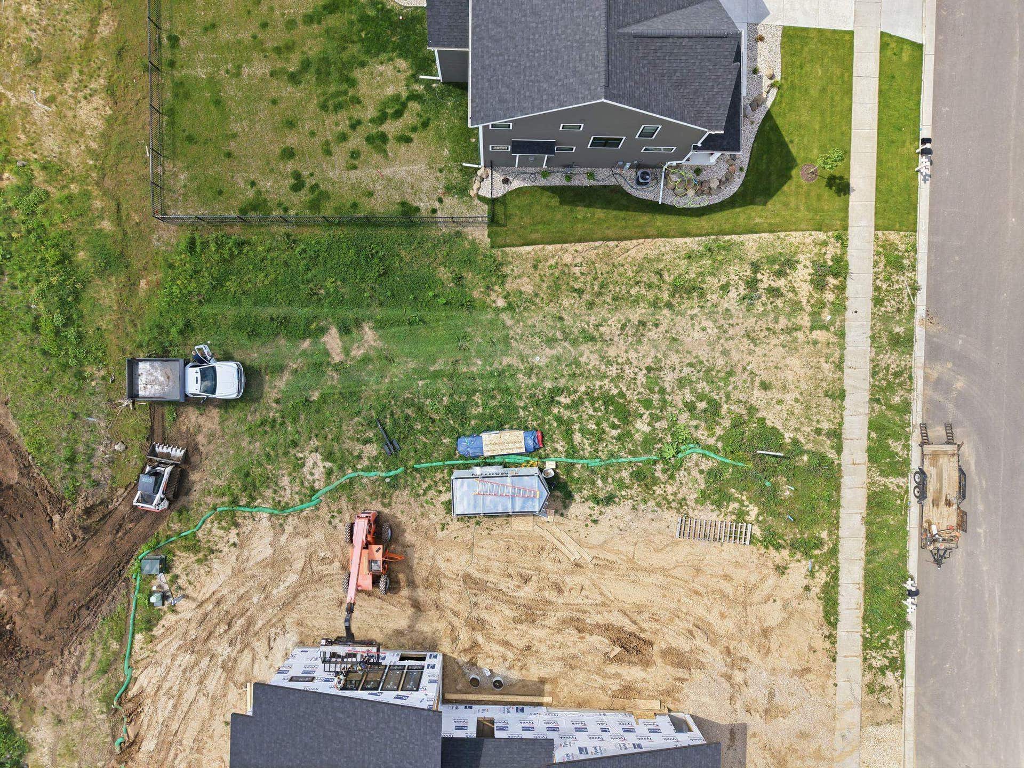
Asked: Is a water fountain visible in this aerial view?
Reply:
No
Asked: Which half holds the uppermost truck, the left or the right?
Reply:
left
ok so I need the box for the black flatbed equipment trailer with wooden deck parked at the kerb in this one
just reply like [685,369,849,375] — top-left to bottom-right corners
[912,423,967,568]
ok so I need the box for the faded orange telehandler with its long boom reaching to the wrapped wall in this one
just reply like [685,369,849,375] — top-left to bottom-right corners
[329,516,398,645]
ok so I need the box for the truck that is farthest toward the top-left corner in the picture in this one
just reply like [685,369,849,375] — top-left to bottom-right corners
[127,344,248,406]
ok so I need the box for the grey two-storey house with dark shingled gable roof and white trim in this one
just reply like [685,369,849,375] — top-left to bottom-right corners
[421,0,745,203]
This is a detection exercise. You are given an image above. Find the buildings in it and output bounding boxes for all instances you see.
[421,0,745,203]
[227,646,717,768]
